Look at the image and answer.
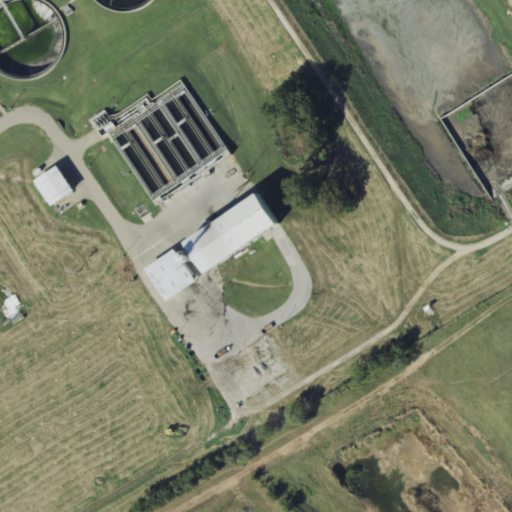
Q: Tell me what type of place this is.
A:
industrial area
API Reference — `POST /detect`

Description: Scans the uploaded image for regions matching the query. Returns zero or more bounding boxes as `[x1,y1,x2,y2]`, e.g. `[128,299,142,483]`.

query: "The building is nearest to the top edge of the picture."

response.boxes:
[34,166,75,206]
